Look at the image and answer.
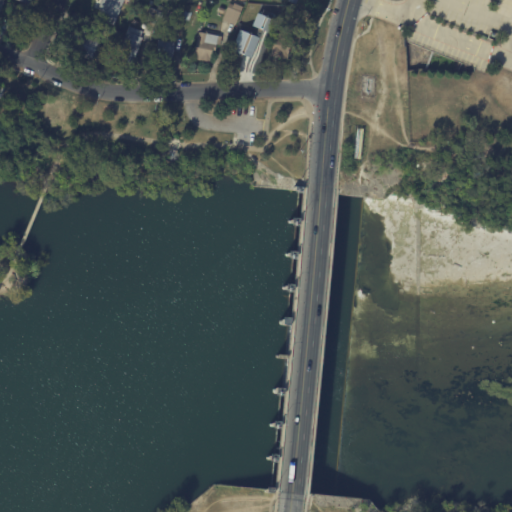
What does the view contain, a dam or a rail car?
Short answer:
dam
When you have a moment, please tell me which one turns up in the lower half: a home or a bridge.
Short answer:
bridge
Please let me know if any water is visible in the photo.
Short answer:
Yes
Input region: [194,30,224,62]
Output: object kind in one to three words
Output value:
house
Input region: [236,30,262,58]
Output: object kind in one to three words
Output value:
house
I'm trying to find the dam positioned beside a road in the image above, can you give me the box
[266,186,362,494]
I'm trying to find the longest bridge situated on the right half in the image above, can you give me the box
[276,187,338,494]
